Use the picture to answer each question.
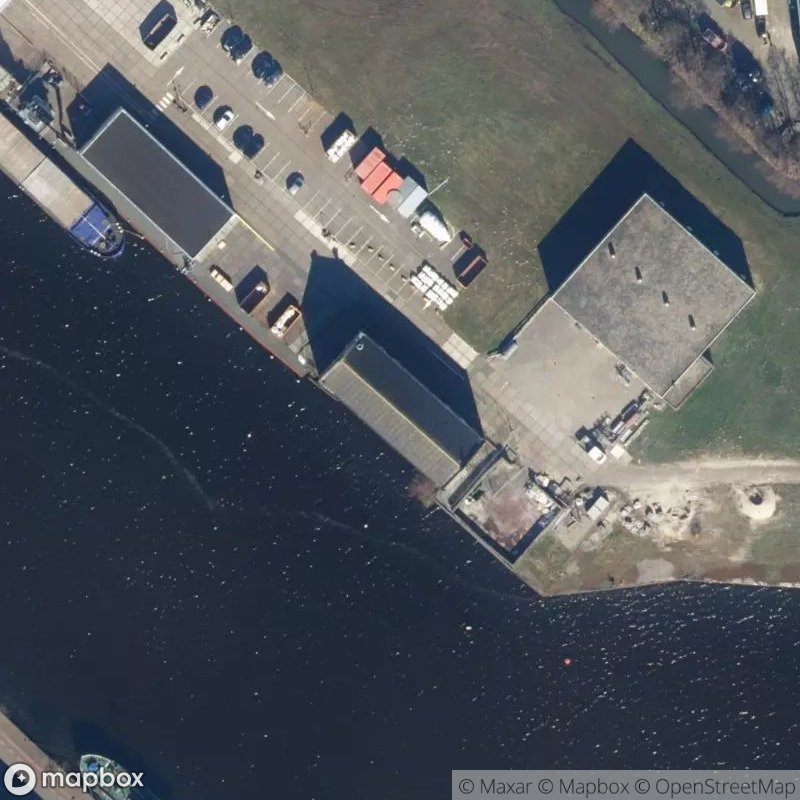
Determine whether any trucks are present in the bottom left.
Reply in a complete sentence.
No, I see no truck in the bottom left.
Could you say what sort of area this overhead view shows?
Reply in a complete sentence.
The picture captures a port.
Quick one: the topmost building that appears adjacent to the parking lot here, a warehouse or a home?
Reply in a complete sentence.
It looks like the topmost building that appears adjacent to the parking lot is a warehouse.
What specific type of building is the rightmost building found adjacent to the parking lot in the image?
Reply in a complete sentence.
Specifically, the rightmost building found adjacent to the parking lot is a warehouse.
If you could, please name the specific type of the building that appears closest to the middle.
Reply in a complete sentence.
The building that appears closest to the middle can be classified as a warehouse.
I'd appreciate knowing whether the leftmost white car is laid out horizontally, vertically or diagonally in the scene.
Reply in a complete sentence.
What the image shows is the leftmost white car lying diagonally.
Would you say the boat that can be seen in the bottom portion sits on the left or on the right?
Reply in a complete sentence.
The boat that can be seen in the bottom portion sits on the left side.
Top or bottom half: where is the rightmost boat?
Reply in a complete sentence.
You can find the rightmost boat in the top half.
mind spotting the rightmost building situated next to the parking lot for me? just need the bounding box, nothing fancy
[552,190,756,395]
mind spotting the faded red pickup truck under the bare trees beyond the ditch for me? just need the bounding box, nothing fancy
[703,25,728,51]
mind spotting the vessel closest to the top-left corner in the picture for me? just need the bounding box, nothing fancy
[0,103,146,259]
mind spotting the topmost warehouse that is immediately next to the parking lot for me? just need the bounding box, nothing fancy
[80,105,234,259]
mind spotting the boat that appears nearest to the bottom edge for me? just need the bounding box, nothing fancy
[78,752,144,800]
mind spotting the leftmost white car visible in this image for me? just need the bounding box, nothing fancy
[213,109,234,131]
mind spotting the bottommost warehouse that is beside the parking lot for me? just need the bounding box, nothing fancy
[318,329,486,489]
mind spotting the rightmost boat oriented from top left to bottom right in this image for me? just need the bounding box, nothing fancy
[420,212,452,242]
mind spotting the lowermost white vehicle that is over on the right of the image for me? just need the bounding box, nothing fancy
[588,445,607,463]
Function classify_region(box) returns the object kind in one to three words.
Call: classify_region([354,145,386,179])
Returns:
shipping container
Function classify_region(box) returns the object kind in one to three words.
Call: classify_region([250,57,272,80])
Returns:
car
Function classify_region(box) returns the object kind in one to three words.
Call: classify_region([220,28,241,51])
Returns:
car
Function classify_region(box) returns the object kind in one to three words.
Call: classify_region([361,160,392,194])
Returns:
shipping container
